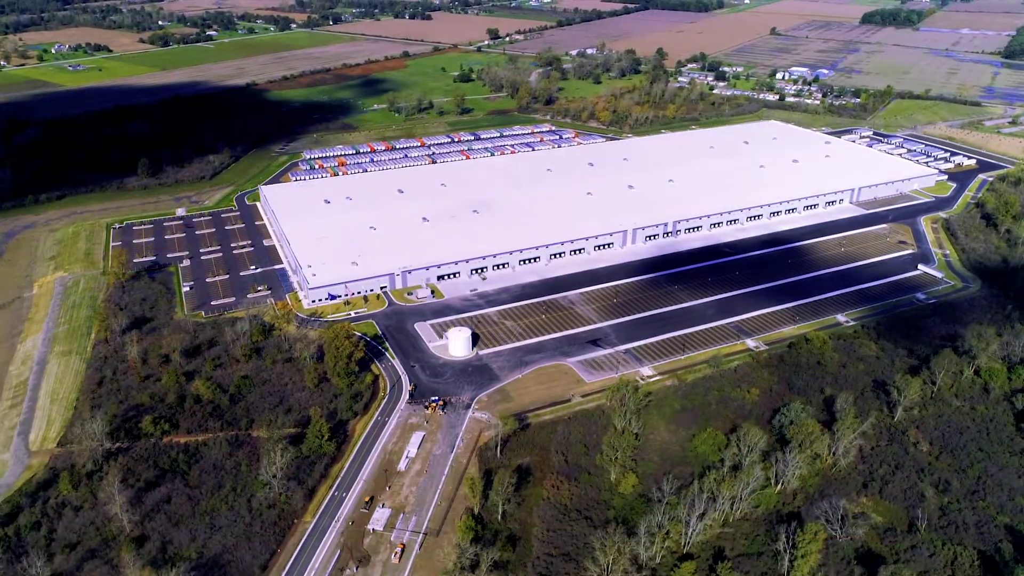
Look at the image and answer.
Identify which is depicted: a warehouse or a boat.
warehouse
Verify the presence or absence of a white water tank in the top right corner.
No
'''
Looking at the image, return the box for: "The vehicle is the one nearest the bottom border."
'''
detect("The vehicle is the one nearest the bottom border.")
[390,541,406,560]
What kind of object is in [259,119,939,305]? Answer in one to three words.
warehouse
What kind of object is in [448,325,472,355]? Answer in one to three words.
water tank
